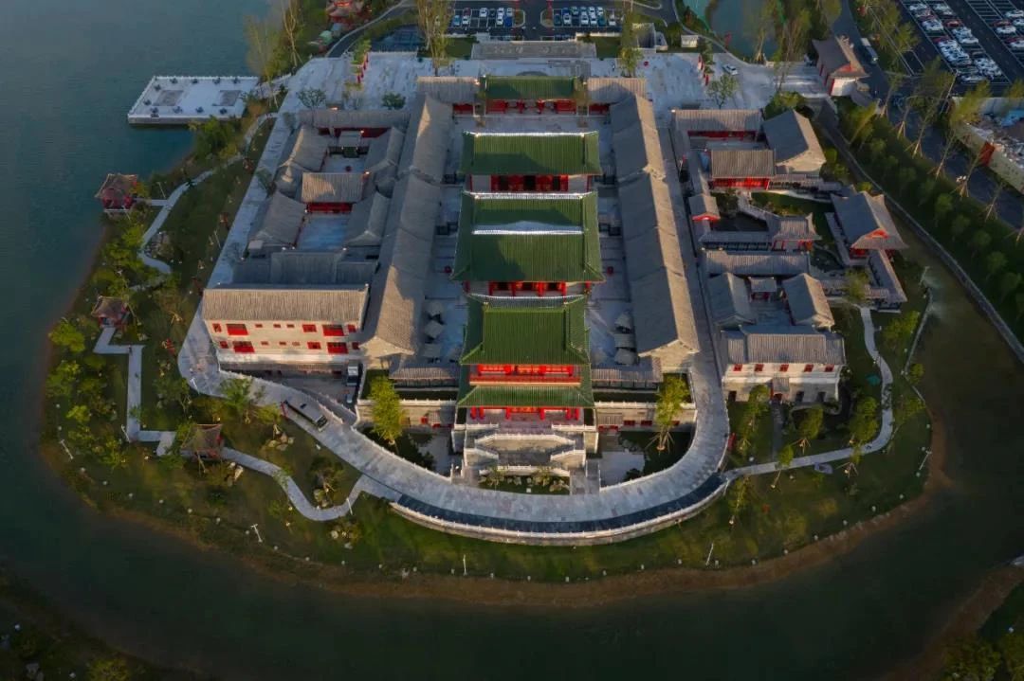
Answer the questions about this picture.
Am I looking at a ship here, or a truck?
truck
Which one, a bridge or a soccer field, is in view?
bridge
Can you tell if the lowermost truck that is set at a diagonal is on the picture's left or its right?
left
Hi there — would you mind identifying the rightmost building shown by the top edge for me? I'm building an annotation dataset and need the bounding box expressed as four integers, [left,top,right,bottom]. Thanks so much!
[810,27,871,99]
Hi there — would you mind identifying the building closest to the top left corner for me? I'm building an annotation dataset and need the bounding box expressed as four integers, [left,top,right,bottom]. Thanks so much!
[88,170,153,223]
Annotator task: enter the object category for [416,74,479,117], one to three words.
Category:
building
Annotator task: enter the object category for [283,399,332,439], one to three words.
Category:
truck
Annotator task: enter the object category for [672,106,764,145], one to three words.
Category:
house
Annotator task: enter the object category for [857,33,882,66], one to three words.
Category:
bus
